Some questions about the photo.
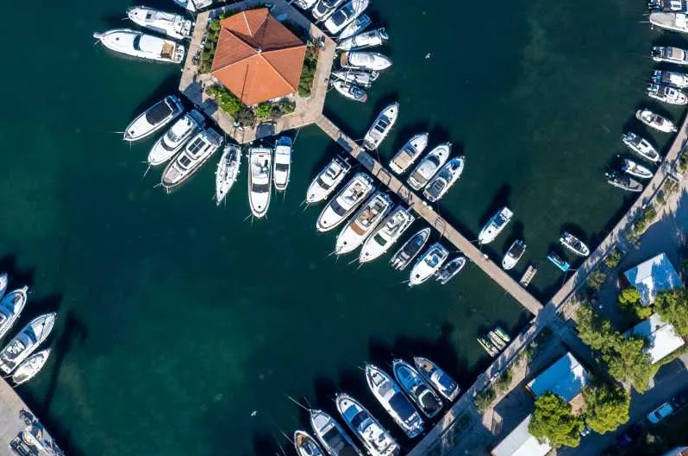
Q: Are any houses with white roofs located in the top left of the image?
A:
No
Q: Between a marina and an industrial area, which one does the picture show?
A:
marina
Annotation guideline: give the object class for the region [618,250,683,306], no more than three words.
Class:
house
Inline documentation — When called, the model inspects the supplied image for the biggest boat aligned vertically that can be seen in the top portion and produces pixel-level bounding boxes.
[247,137,274,223]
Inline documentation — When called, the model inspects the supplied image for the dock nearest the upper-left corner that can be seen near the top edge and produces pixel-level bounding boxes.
[179,0,337,144]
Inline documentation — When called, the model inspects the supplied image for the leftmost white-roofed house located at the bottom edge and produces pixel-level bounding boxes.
[487,408,553,456]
